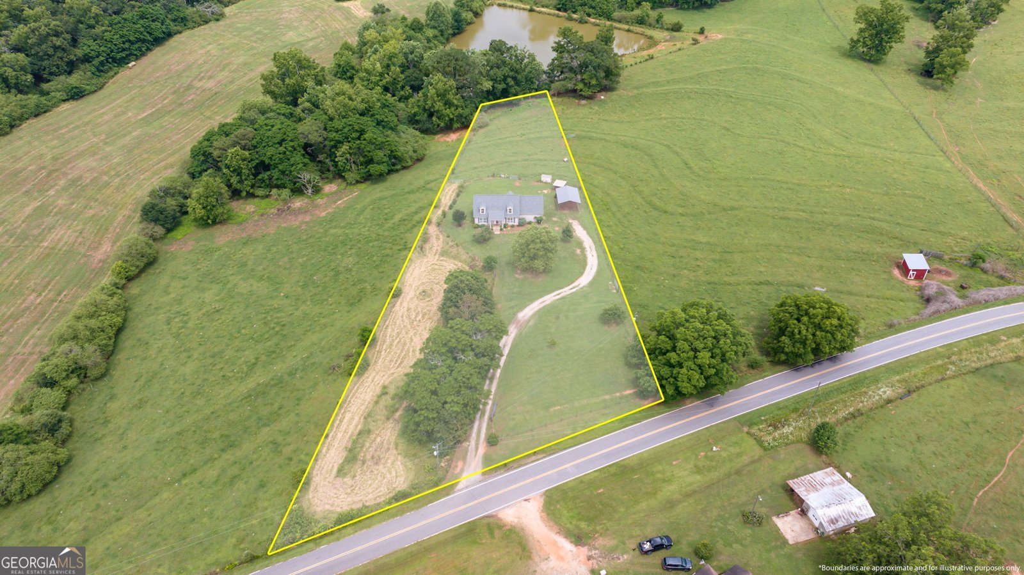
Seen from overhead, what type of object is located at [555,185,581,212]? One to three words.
building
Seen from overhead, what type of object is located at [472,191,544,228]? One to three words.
house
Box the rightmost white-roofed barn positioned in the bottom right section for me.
[788,466,870,535]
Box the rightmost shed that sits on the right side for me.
[902,259,929,280]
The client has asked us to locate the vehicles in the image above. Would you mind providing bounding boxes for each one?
[662,558,692,573]
[637,536,673,555]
